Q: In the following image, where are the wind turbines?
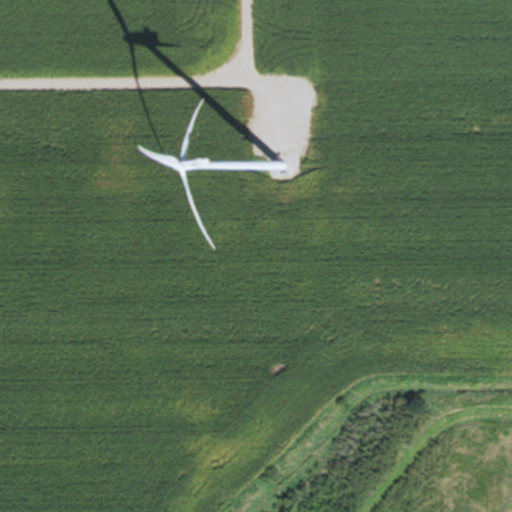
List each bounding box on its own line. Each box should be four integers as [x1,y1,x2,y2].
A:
[138,98,290,248]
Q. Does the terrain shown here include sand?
No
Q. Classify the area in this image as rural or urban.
rural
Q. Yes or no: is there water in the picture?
No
